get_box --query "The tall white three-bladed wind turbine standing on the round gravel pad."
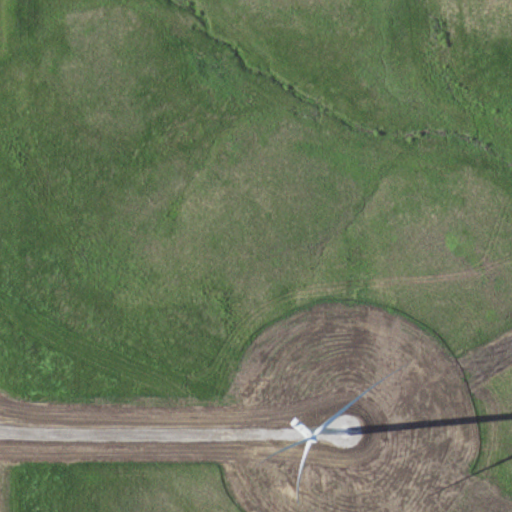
[262,368,401,501]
